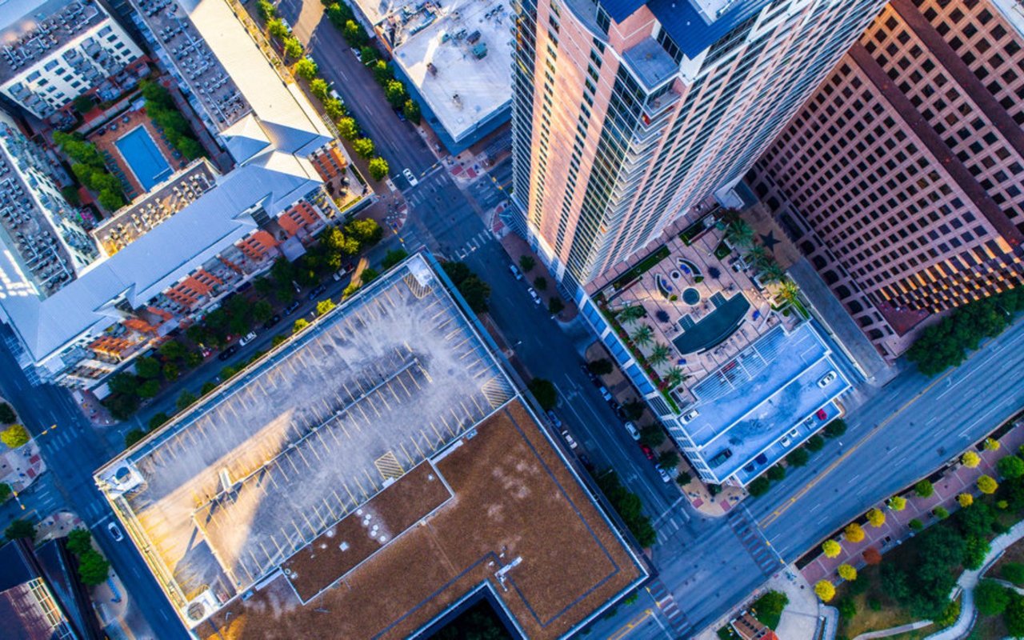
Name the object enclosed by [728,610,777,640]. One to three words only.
building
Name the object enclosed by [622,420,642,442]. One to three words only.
car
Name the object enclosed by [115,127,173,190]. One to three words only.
swimming pool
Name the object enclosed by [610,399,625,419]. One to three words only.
car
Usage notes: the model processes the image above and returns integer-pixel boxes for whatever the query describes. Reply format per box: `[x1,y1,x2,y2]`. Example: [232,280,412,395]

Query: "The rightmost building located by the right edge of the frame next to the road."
[742,0,1024,362]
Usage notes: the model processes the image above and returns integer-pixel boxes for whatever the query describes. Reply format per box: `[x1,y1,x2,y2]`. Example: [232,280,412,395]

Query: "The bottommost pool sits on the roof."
[672,291,751,354]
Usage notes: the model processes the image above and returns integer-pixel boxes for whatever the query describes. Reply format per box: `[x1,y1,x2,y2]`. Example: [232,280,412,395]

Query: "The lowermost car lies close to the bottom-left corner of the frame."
[108,521,125,542]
